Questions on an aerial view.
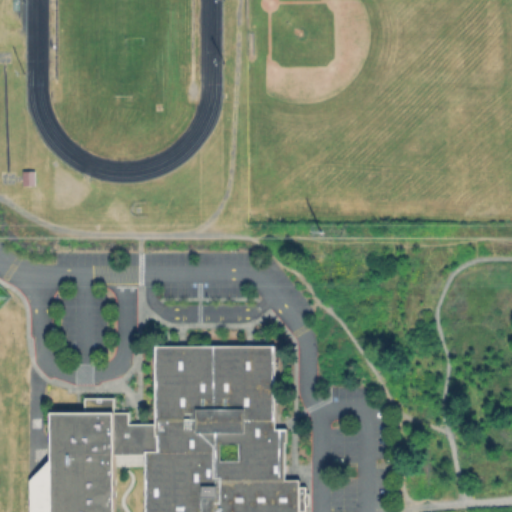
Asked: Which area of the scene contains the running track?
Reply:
top left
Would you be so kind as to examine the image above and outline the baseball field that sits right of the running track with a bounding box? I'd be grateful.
[250,0,512,220]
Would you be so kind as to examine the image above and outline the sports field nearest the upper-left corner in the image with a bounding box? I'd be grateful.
[50,0,201,160]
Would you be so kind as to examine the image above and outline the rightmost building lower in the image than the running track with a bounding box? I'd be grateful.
[30,346,307,512]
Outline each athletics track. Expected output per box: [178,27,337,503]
[27,0,224,182]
